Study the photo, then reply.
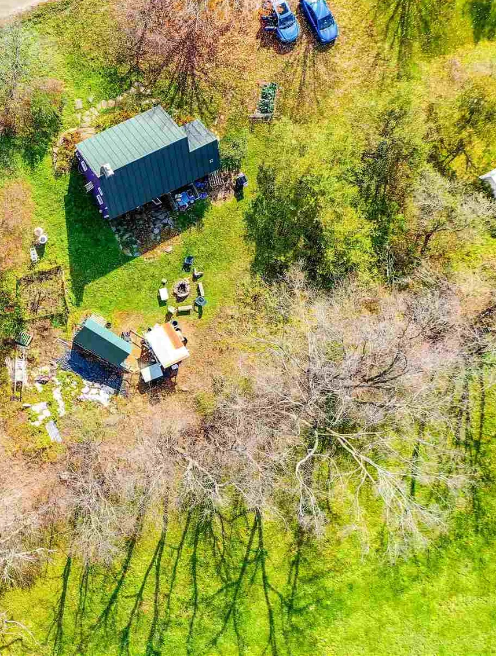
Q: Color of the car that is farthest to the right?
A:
blue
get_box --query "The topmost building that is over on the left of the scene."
[75,106,220,219]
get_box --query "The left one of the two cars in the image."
[263,0,302,43]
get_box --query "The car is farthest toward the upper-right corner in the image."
[303,0,339,46]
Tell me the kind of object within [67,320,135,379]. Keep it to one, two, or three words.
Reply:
shed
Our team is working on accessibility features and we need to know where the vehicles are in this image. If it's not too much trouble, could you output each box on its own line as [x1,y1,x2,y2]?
[263,0,302,43]
[303,0,339,46]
